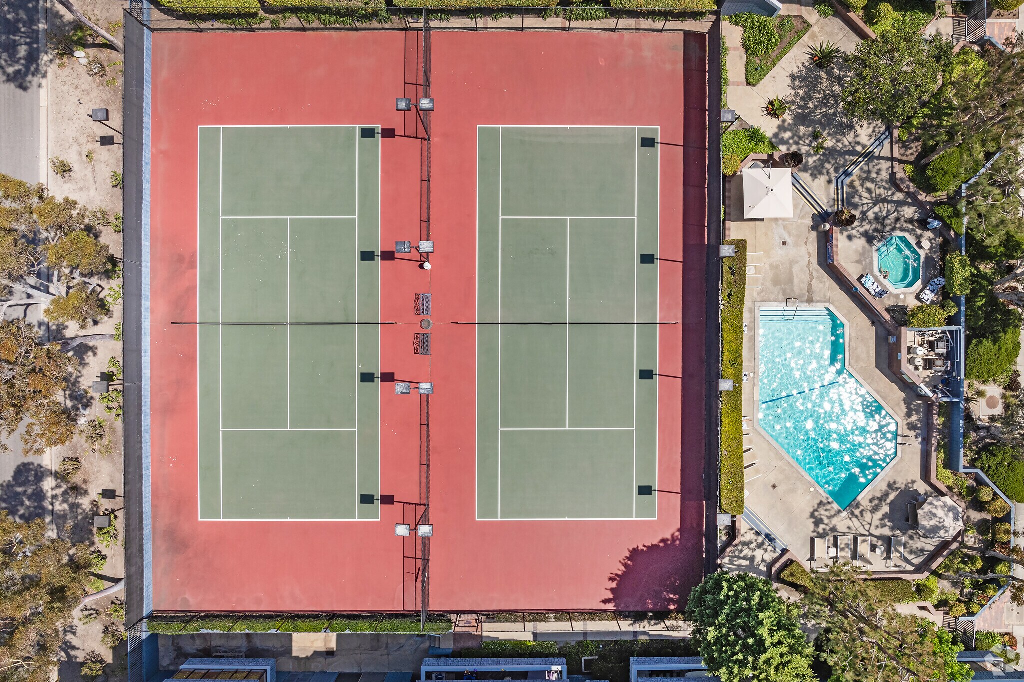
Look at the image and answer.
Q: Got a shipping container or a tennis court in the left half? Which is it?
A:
tennis court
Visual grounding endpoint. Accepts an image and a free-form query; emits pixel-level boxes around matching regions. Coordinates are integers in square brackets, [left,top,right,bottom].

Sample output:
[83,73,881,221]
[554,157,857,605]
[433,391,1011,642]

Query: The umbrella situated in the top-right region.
[742,148,793,219]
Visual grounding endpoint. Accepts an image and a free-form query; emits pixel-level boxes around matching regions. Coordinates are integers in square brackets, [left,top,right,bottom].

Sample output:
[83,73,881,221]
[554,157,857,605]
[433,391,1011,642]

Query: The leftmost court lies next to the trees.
[151,30,431,613]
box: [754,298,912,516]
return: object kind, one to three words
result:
swimming pool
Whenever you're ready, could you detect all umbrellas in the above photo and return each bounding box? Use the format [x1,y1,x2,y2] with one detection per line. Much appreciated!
[917,495,992,541]
[742,148,793,219]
